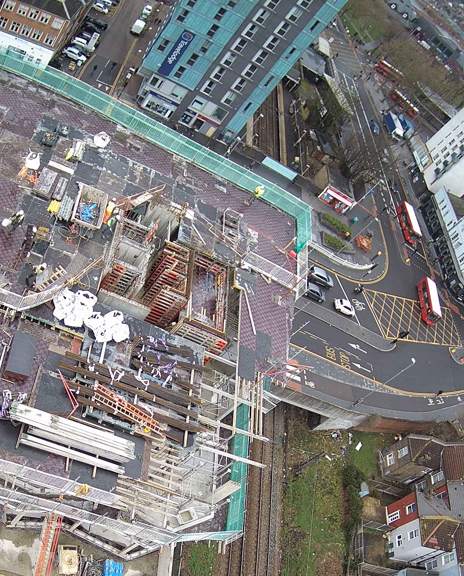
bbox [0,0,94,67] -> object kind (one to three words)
building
